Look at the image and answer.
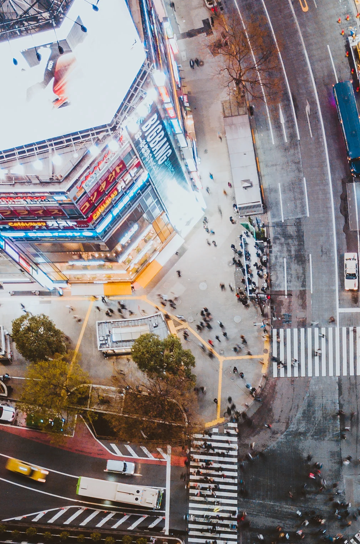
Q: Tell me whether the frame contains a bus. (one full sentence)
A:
Yes, the picture does show a bus.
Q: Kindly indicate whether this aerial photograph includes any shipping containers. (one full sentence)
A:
No, this view has no shipping container in it.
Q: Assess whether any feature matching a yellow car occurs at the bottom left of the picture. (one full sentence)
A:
Yes, a yellow car shows up at the bottom left of the picture.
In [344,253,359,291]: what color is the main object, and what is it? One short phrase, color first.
white car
